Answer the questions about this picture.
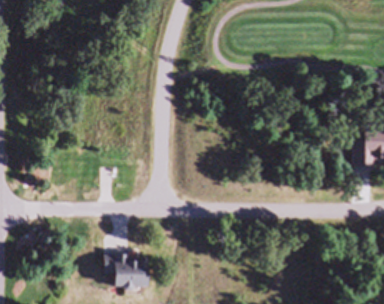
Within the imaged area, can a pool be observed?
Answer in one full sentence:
No, the photo shows no pool.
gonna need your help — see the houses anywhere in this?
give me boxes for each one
[104,254,149,291]
[364,132,384,166]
